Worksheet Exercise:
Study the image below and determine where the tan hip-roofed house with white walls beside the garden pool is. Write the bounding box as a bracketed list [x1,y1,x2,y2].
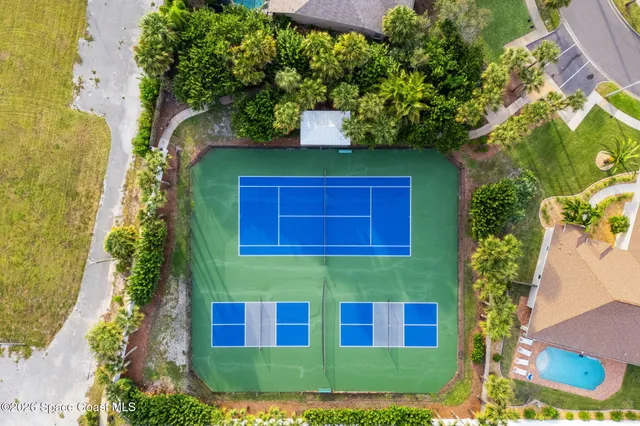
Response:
[521,153,640,365]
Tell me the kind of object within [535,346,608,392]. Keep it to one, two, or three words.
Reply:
swimming pool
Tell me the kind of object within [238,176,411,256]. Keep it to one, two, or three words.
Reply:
tennis court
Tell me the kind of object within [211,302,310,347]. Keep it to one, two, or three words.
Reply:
sports court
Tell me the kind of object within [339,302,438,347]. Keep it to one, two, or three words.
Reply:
sports court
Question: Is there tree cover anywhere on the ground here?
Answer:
Yes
